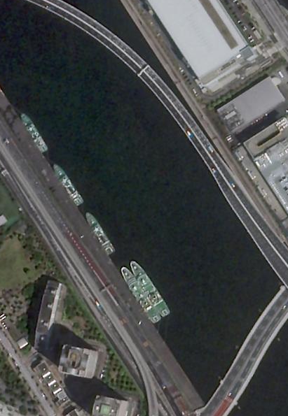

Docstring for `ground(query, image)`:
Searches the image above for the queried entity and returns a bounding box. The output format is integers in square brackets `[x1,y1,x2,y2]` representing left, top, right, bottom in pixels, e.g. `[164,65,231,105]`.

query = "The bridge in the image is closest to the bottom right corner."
[198,282,288,416]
